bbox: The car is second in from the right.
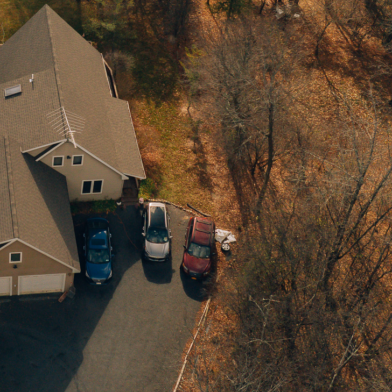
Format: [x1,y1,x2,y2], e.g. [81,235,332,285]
[140,199,177,264]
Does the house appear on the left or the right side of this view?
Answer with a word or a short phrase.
left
